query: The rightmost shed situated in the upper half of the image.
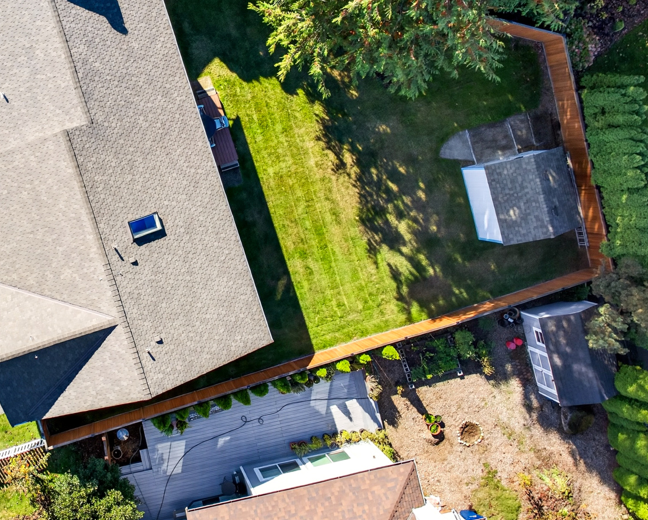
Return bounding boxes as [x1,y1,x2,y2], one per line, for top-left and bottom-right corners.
[461,145,577,247]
